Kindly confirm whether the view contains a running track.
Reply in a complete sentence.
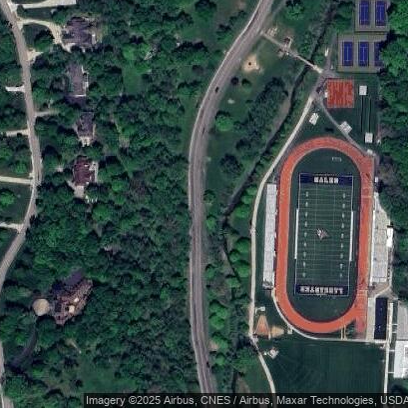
Yes, looking at the shot, I can spot a running track.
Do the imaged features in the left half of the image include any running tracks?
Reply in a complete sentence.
No, I can find no running track in the left half of the image.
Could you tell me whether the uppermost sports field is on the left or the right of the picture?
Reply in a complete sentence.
It is on the right.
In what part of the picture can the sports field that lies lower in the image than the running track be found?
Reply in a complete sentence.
The sports field that lies lower in the image than the running track appears toward the bottom right of the photo.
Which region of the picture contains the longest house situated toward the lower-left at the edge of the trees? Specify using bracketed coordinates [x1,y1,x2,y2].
[55,275,95,326]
